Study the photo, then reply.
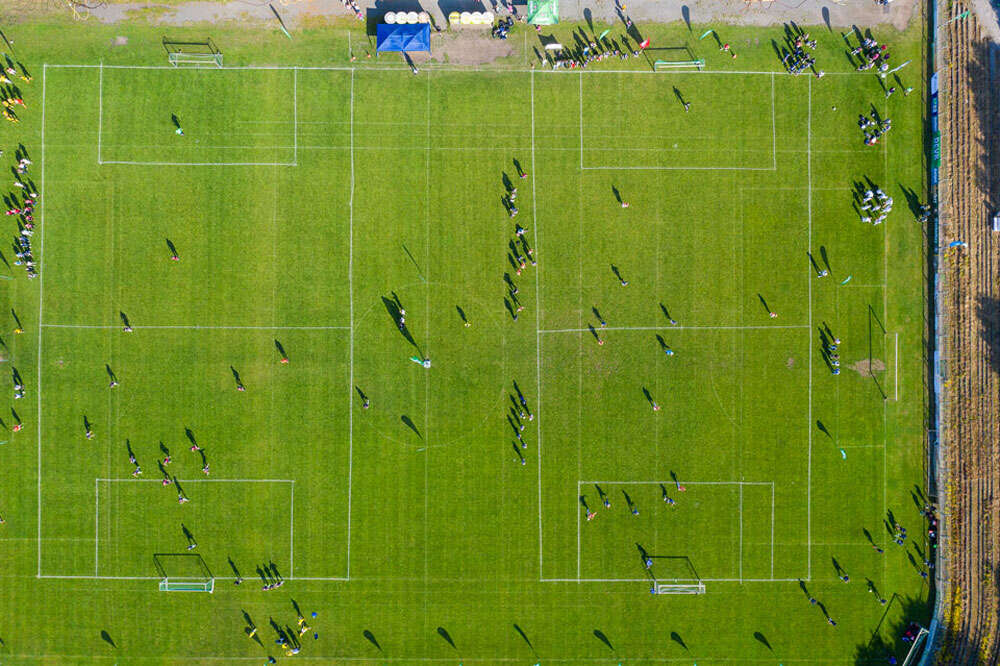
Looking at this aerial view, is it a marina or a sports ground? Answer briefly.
sports ground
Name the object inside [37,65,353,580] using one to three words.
soccer field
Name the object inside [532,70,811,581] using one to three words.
soccer field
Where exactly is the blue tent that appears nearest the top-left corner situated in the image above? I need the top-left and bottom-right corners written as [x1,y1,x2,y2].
[377,23,432,58]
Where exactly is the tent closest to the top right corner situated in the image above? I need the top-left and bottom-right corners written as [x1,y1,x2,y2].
[527,0,559,31]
